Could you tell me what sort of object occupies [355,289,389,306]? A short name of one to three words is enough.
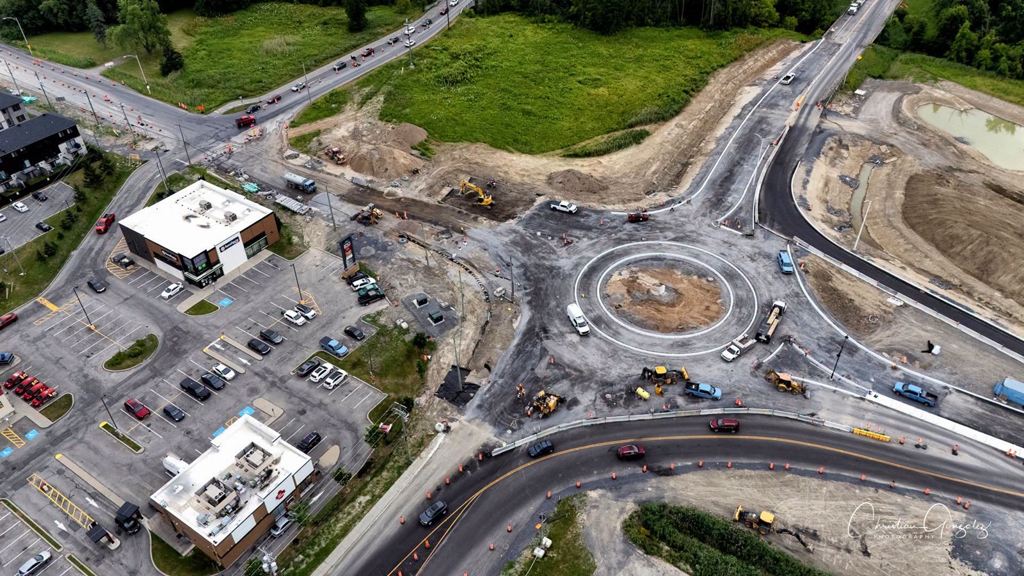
vehicle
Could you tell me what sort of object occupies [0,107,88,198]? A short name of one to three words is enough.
building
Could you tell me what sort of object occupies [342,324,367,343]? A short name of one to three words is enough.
car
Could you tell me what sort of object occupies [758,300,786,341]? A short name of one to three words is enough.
truck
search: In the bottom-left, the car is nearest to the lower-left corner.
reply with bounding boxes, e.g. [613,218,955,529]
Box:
[13,546,56,576]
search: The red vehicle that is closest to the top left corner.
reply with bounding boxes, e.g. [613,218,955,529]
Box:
[93,213,117,232]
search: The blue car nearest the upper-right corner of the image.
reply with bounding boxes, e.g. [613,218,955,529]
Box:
[778,253,793,272]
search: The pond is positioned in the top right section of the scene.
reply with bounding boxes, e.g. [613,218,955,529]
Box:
[916,102,1024,171]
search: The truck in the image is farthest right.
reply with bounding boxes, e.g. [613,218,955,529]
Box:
[987,377,1024,404]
